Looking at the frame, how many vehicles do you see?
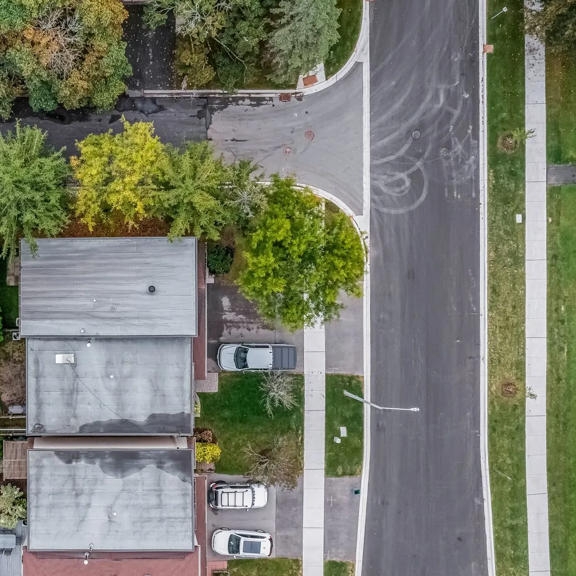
3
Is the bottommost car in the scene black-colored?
No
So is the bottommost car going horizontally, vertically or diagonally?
horizontally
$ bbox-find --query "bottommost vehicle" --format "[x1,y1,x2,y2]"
[208,528,272,562]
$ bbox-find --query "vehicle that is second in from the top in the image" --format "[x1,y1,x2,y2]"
[207,481,267,514]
